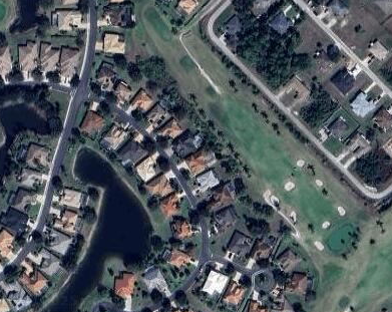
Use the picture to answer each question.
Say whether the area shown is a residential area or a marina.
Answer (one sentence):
What you see here is a residential area.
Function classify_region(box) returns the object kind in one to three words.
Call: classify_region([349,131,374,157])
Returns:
house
